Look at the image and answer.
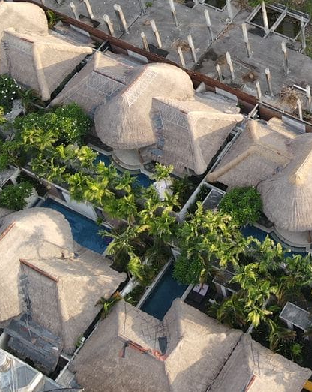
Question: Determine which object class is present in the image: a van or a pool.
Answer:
pool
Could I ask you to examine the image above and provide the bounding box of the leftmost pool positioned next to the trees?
[36,195,107,257]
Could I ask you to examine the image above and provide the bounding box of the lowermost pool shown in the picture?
[134,258,202,322]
